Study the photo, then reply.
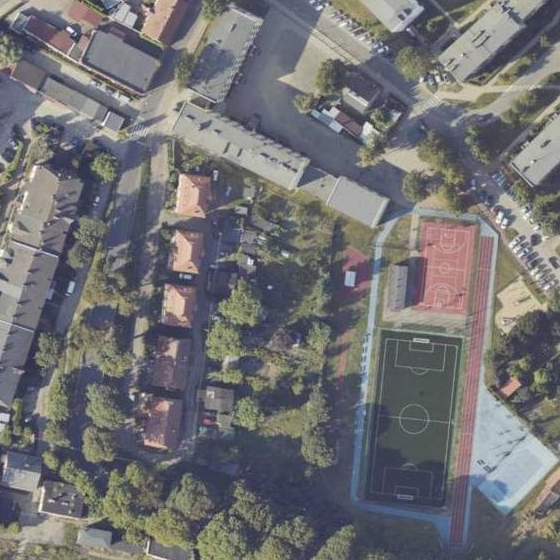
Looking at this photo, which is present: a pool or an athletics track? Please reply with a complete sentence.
Visible in the photo is an athletics track.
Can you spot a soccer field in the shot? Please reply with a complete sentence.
Yes, this view includes a soccer field.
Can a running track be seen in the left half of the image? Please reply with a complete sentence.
No, in the left half of the image there is no running track.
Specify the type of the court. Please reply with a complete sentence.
What you see as the court is a basketball court.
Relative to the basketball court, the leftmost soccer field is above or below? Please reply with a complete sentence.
As seen from overhead, the leftmost soccer field falls below the basketball court in the picture.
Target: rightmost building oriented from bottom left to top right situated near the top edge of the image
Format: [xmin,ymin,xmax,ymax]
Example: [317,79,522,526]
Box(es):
[438,4,525,85]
